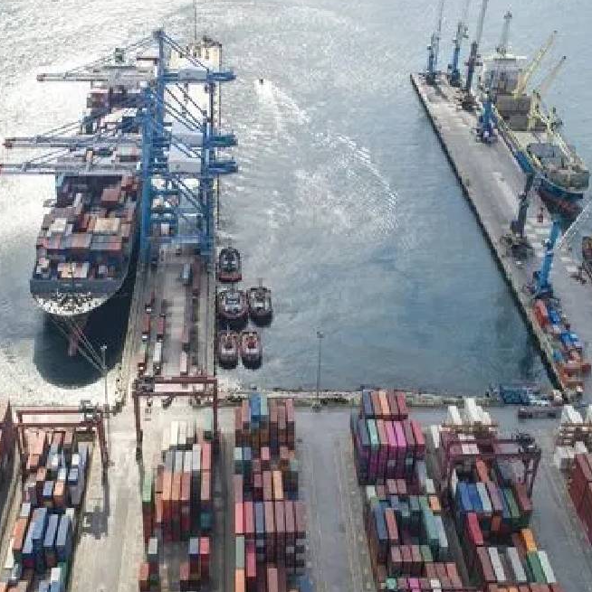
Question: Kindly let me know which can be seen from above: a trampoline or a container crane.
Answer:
container crane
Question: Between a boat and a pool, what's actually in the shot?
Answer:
boat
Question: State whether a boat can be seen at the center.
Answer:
Yes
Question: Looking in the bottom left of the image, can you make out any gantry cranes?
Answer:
Yes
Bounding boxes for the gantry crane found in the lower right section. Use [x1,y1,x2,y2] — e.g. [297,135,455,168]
[429,432,547,520]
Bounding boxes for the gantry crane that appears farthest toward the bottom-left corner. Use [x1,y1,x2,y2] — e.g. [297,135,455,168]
[2,399,109,484]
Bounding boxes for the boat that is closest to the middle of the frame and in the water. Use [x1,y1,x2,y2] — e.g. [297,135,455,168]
[250,284,276,325]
